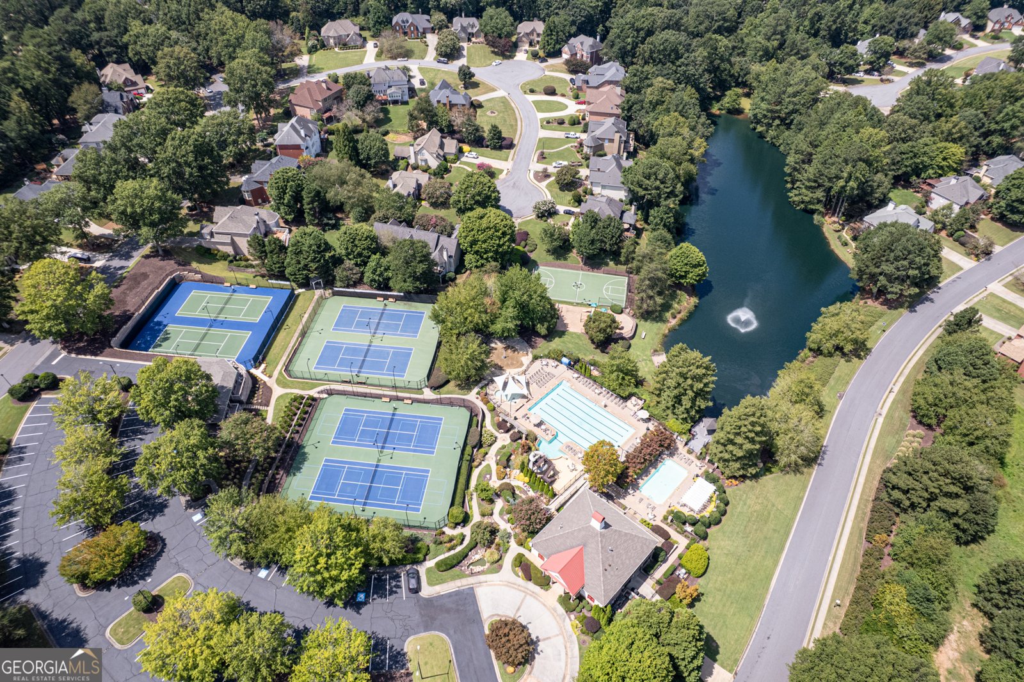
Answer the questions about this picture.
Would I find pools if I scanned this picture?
Yes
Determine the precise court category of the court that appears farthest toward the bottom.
tennis court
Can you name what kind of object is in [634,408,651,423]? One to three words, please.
umbrella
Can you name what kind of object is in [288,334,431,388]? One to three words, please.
tennis court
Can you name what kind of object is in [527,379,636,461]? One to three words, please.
swimming pool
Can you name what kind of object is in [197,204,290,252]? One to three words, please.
house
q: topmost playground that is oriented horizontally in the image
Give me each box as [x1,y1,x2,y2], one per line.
[544,302,636,338]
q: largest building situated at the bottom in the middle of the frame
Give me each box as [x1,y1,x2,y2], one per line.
[531,489,662,607]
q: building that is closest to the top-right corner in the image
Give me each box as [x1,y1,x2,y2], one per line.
[972,5,1024,34]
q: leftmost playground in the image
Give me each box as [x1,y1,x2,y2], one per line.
[490,347,528,369]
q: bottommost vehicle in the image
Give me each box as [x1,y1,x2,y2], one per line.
[406,569,419,593]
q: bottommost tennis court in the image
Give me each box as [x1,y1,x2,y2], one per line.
[278,449,456,529]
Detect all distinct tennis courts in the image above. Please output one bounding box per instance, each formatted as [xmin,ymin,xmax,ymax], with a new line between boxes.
[149,281,291,327]
[311,296,440,344]
[126,318,273,369]
[305,395,469,464]
[278,449,456,529]
[288,334,431,388]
